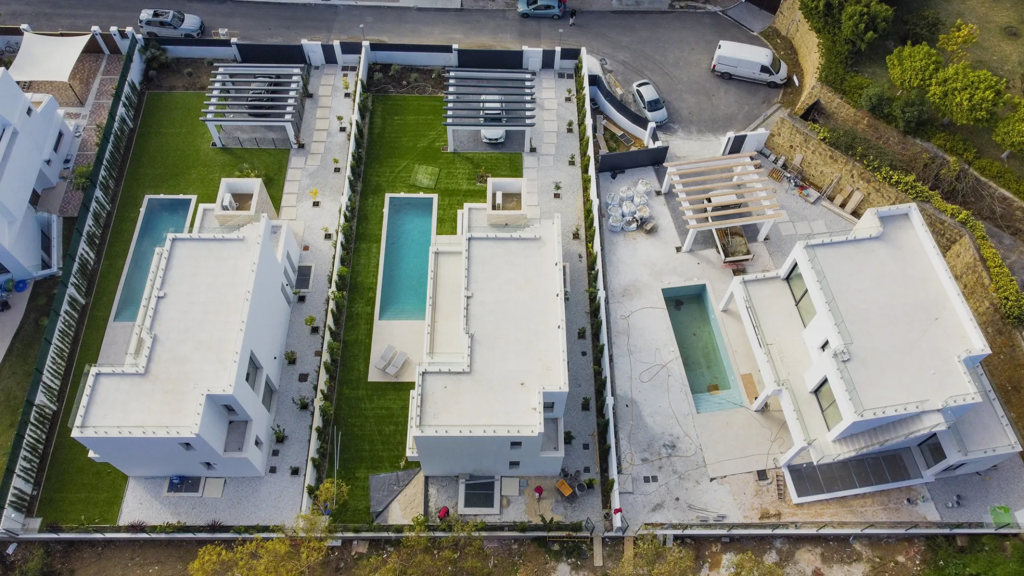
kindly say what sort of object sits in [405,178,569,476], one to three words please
house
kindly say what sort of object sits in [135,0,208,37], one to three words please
car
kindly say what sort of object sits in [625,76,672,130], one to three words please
car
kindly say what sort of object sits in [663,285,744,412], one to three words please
swimming pool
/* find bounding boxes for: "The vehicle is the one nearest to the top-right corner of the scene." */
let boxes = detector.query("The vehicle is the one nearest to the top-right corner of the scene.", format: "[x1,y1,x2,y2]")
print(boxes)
[711,30,799,87]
